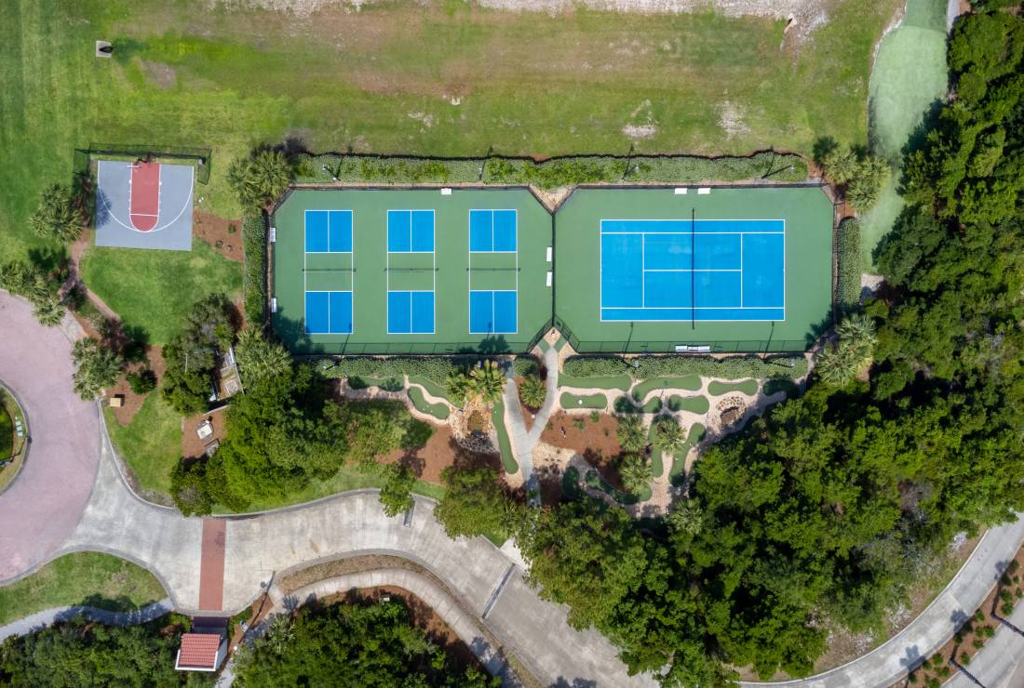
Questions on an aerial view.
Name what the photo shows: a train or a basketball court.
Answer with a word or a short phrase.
basketball court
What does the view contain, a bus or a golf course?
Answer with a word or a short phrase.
golf course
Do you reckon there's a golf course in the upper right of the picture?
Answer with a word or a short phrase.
No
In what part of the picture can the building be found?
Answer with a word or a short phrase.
bottom left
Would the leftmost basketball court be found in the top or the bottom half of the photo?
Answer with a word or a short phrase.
top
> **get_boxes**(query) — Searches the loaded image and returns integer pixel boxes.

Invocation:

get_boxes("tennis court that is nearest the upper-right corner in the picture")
[601,219,785,321]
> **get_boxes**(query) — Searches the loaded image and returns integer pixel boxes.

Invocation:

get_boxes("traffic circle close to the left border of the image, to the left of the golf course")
[0,290,101,582]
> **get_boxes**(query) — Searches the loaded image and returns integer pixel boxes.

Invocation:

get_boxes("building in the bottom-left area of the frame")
[178,617,229,672]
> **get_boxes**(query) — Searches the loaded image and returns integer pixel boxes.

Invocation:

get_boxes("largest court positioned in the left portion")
[95,160,194,251]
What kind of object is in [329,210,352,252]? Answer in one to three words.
sports court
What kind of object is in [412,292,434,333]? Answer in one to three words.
sports court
